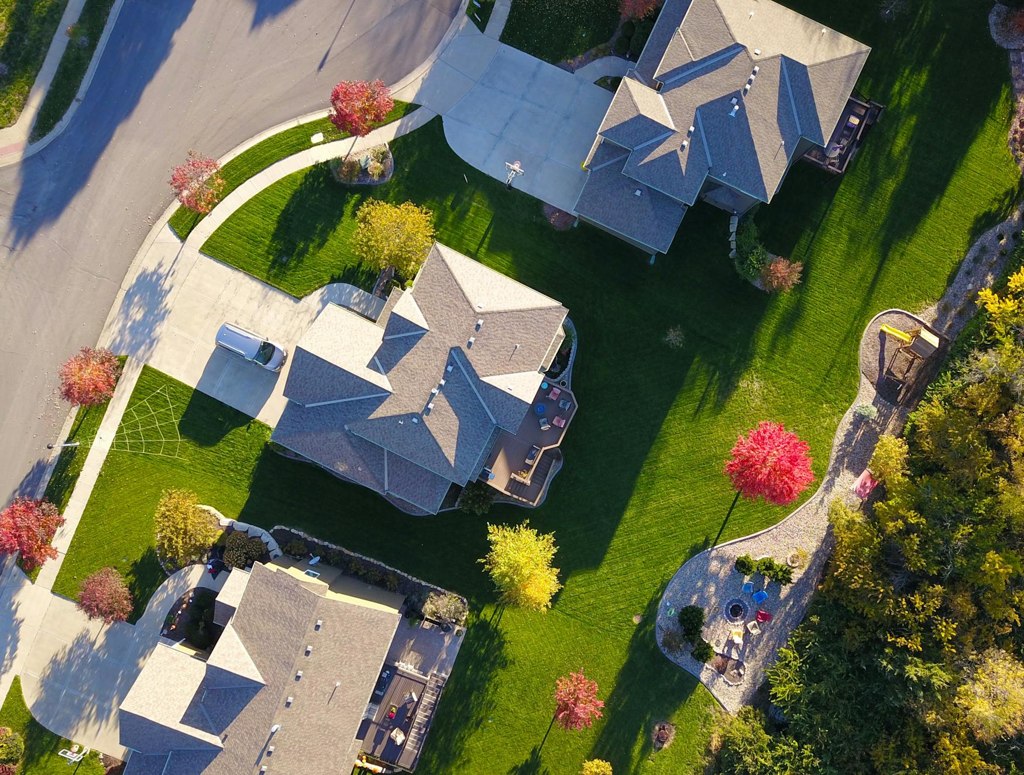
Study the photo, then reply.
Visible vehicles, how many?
1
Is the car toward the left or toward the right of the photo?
left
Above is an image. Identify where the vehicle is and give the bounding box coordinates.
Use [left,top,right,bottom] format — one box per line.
[209,319,291,374]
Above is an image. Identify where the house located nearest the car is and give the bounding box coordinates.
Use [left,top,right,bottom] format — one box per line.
[270,241,571,516]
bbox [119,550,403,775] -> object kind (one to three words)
house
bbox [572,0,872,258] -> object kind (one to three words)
house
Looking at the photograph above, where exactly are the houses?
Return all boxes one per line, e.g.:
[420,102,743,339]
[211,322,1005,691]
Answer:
[119,550,403,775]
[270,241,571,516]
[572,0,872,258]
